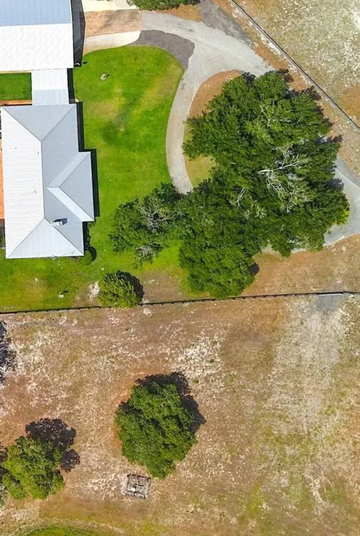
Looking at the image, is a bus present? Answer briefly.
No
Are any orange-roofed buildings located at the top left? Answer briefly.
No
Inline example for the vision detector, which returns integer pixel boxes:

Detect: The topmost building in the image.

[0,0,74,70]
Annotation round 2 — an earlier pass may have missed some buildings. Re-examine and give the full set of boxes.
[0,0,74,70]
[0,103,94,259]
